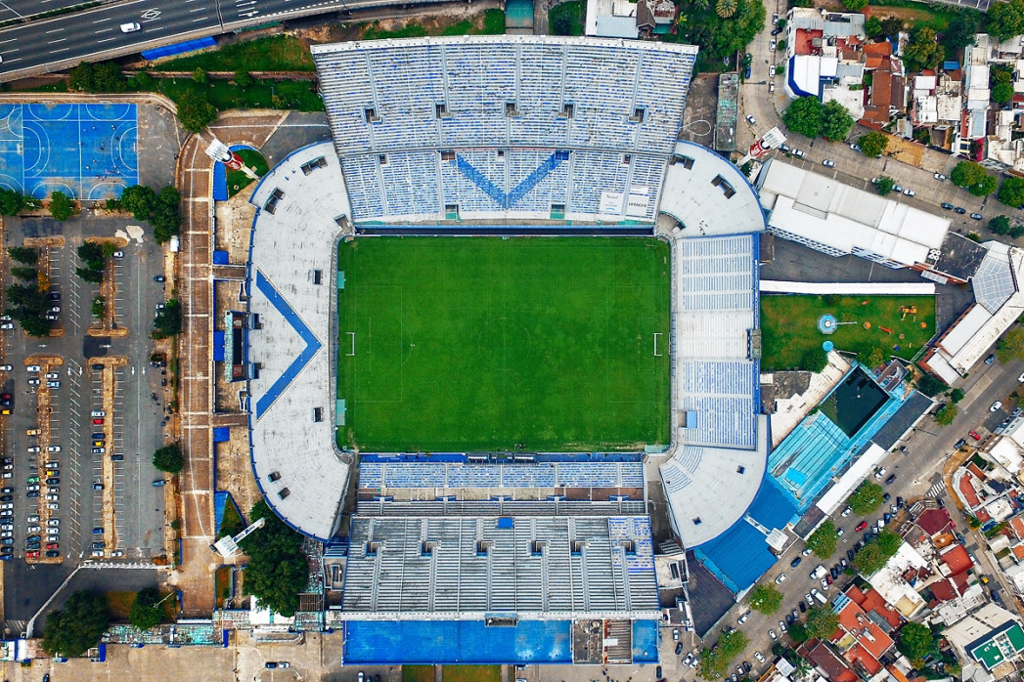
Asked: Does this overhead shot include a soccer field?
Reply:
Yes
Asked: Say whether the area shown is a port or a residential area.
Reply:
residential area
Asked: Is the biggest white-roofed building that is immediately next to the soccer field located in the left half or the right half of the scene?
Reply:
right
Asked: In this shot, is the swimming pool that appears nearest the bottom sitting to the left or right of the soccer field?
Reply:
to the right of it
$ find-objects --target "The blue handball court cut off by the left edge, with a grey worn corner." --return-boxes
[0,103,22,197]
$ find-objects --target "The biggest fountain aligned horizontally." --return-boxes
[819,314,859,333]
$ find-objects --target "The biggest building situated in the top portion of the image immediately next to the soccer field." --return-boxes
[755,159,951,268]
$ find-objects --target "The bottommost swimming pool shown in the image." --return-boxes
[768,362,916,510]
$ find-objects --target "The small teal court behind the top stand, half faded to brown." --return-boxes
[505,0,534,36]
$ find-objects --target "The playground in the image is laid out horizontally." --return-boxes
[765,294,936,375]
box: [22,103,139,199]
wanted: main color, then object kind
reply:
blue sports court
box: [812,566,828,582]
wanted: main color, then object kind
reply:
white vehicle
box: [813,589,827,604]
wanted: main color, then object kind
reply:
white vehicle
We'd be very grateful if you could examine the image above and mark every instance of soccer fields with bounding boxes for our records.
[337,237,671,454]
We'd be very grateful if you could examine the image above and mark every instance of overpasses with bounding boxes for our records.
[0,0,418,82]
